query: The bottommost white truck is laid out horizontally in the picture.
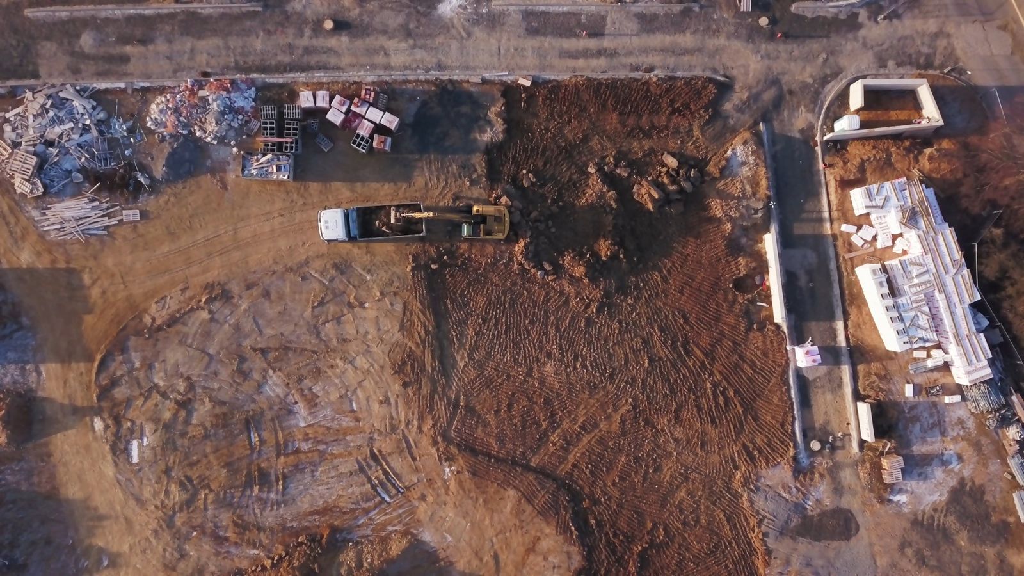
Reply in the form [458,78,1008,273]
[309,199,425,245]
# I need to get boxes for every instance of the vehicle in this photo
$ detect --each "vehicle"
[394,201,514,237]
[309,199,425,245]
